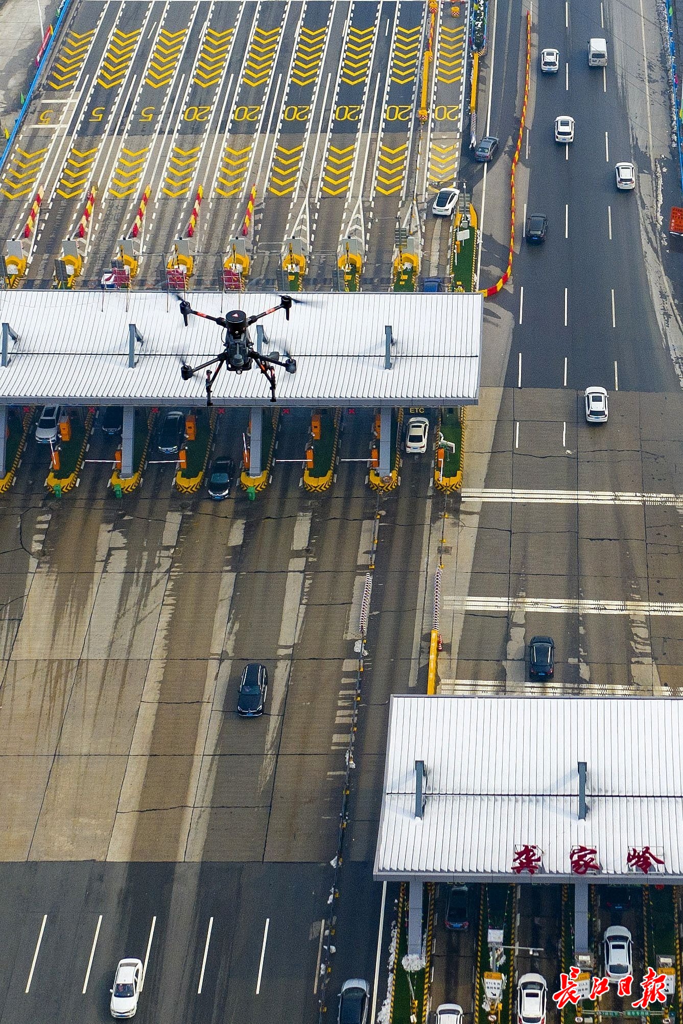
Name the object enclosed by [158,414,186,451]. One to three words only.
car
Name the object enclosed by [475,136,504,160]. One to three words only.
car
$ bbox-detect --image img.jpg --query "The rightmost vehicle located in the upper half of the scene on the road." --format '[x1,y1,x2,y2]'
[614,163,636,189]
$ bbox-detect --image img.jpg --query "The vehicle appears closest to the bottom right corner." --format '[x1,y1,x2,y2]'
[600,924,634,983]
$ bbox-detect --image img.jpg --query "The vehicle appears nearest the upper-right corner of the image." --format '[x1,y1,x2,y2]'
[587,38,607,65]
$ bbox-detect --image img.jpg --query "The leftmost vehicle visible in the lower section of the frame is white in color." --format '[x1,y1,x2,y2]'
[108,954,148,1017]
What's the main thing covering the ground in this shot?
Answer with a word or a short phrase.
paved ground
